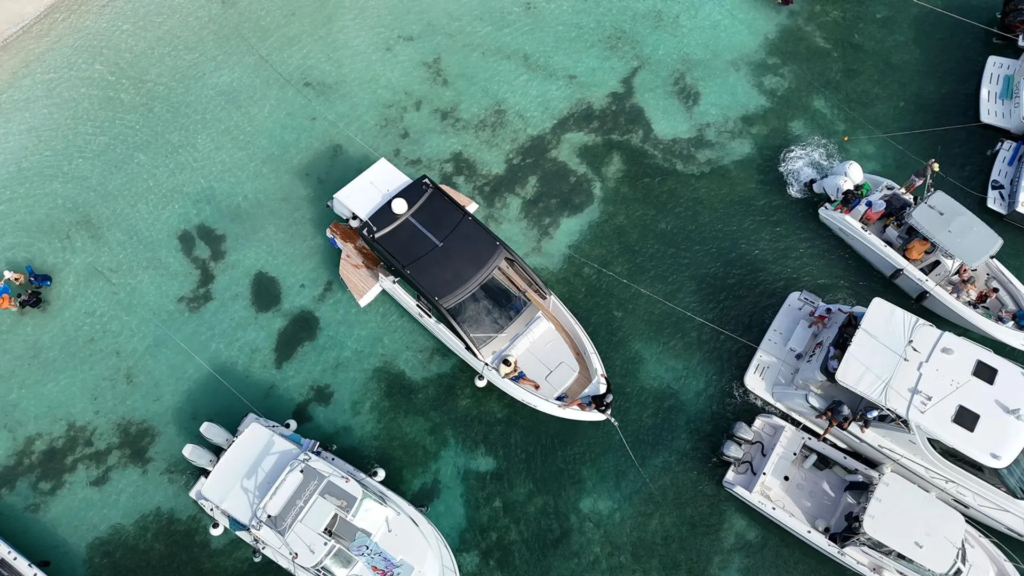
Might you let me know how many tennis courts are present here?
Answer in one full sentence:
No tennis courts are visible.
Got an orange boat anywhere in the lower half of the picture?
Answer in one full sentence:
No, I see no orange boat in the lower half of the picture.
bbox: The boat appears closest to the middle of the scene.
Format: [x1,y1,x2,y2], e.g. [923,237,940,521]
[328,157,621,432]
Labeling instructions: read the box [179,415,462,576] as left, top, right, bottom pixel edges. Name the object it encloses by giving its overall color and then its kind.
white boat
